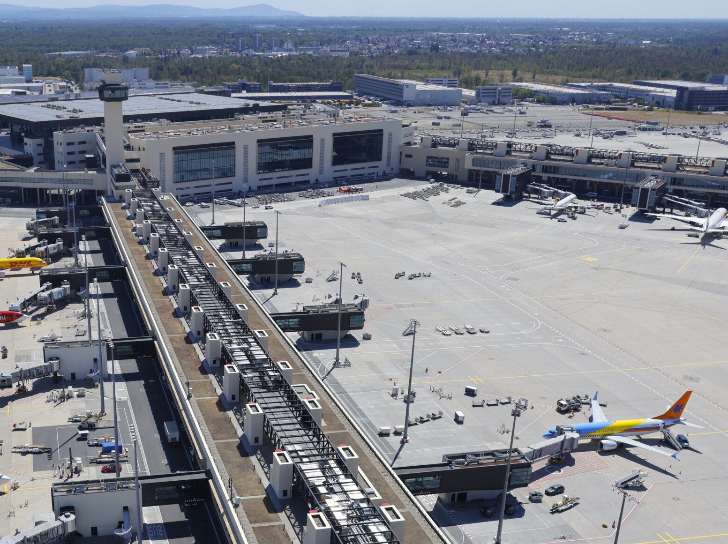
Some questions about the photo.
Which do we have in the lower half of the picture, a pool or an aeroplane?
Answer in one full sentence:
There is an aeroplane in the lower half of the picture.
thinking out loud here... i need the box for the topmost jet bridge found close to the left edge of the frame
[22,215,57,234]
